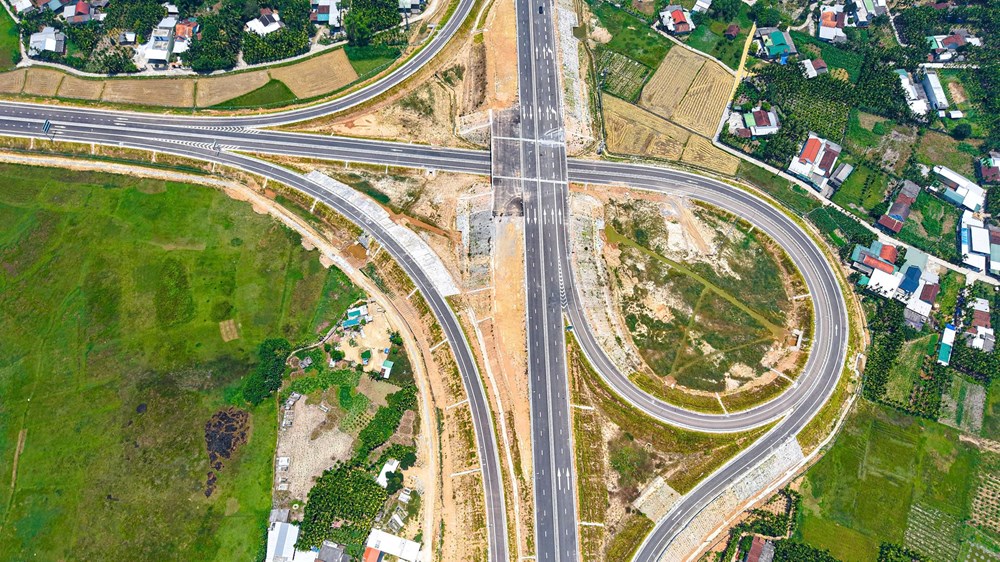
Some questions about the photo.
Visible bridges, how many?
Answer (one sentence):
My tally gives 1 bridge in this photo.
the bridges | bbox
[491,107,568,216]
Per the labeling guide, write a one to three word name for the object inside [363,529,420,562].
barn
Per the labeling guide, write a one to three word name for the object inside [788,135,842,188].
house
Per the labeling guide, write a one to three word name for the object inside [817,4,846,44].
house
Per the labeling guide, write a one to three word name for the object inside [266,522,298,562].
barn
